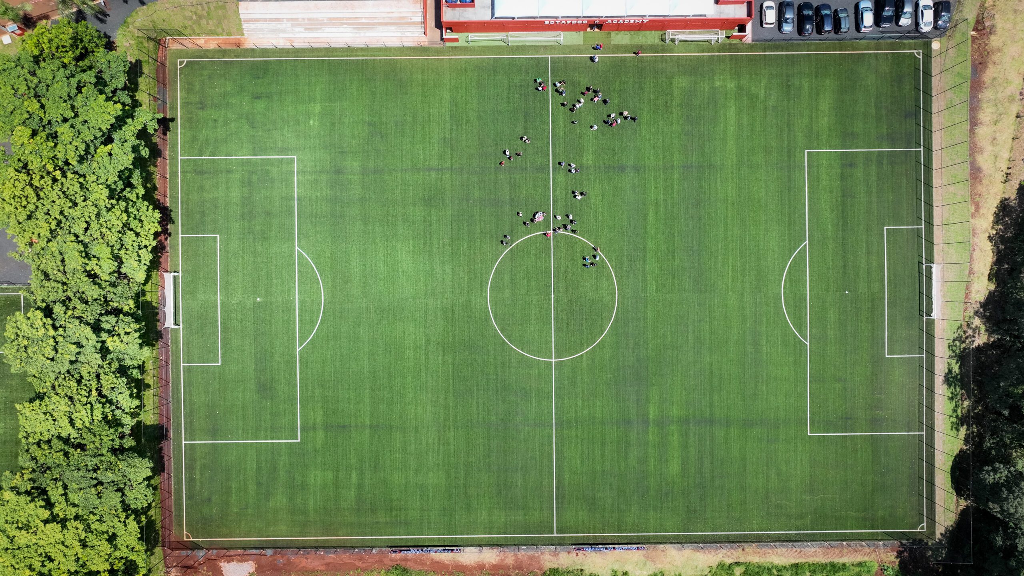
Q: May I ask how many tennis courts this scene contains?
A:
0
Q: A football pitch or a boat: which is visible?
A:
football pitch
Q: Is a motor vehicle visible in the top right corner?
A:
Yes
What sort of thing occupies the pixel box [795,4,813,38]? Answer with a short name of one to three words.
car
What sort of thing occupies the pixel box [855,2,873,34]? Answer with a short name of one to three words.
car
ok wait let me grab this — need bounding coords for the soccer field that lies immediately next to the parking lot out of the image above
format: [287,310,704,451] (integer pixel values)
[167,41,937,550]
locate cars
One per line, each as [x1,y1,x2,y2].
[893,0,911,29]
[930,1,949,32]
[759,3,776,30]
[795,4,813,38]
[855,2,873,34]
[776,2,794,36]
[914,0,933,34]
[832,9,849,37]
[813,6,832,37]
[874,0,893,29]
